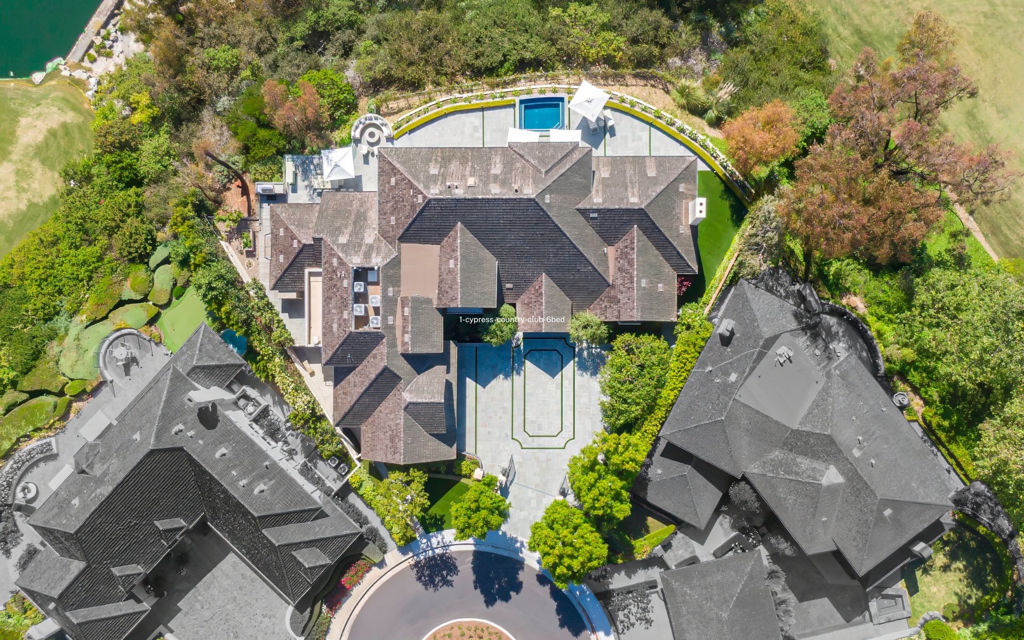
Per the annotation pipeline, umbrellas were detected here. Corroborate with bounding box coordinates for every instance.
[568,80,610,122]
[322,147,355,181]
[508,128,540,142]
[550,129,581,142]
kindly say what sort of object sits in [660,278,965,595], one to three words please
house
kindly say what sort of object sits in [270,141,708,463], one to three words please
house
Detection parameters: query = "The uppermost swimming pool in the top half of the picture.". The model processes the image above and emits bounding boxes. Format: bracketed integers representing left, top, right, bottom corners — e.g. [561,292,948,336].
[515,92,573,135]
